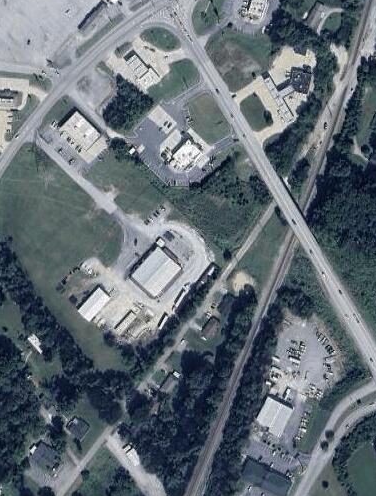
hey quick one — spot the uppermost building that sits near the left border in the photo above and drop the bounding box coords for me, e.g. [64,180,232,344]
[0,90,21,106]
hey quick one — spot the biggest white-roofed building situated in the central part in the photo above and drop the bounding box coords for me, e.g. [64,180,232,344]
[129,246,185,302]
